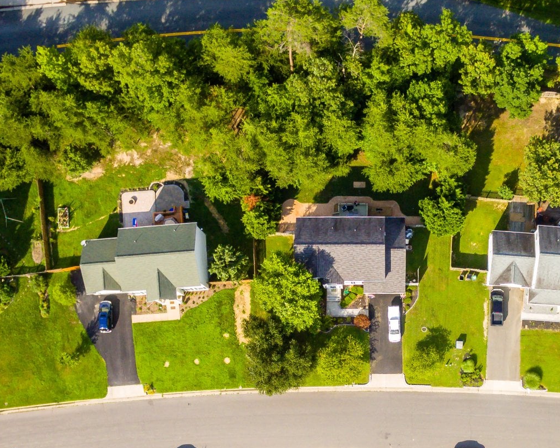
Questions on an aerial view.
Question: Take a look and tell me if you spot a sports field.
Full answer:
No, no sports field is visible in the view.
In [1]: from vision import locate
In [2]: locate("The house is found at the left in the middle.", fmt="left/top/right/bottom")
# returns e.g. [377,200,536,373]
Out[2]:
[78,222,208,304]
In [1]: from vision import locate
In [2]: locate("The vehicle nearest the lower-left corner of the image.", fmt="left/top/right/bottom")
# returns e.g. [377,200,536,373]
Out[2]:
[94,300,112,333]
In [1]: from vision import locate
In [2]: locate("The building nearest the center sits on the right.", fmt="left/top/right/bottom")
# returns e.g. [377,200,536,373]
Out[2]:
[294,215,406,296]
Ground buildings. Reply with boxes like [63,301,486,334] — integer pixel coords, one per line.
[78,222,208,304]
[294,215,406,296]
[487,225,560,307]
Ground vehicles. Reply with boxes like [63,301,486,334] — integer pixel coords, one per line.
[491,288,504,326]
[387,303,401,342]
[94,300,112,333]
